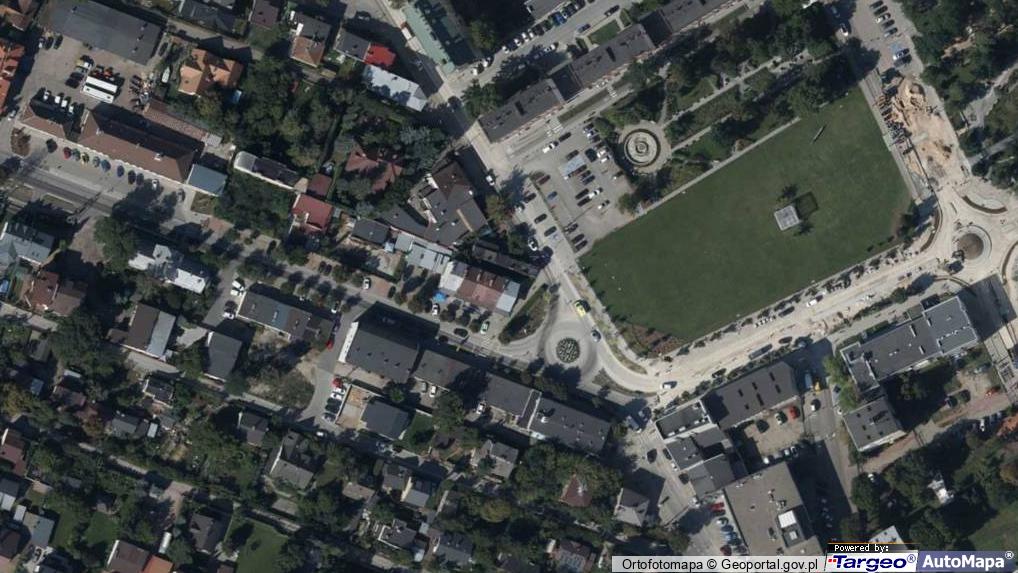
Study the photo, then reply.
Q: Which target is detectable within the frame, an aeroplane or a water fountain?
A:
water fountain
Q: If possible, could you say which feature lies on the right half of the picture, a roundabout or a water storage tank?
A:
roundabout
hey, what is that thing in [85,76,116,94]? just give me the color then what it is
white vehicle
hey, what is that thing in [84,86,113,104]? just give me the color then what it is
white vehicle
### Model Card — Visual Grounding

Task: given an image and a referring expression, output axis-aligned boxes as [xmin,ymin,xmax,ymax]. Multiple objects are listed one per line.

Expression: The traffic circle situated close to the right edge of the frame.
[937,212,1005,280]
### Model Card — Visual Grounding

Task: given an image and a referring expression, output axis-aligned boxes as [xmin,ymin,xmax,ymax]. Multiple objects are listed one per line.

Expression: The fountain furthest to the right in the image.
[623,129,660,166]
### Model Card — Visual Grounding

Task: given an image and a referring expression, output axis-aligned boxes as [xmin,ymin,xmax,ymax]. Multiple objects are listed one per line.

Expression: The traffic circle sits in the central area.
[537,288,598,380]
